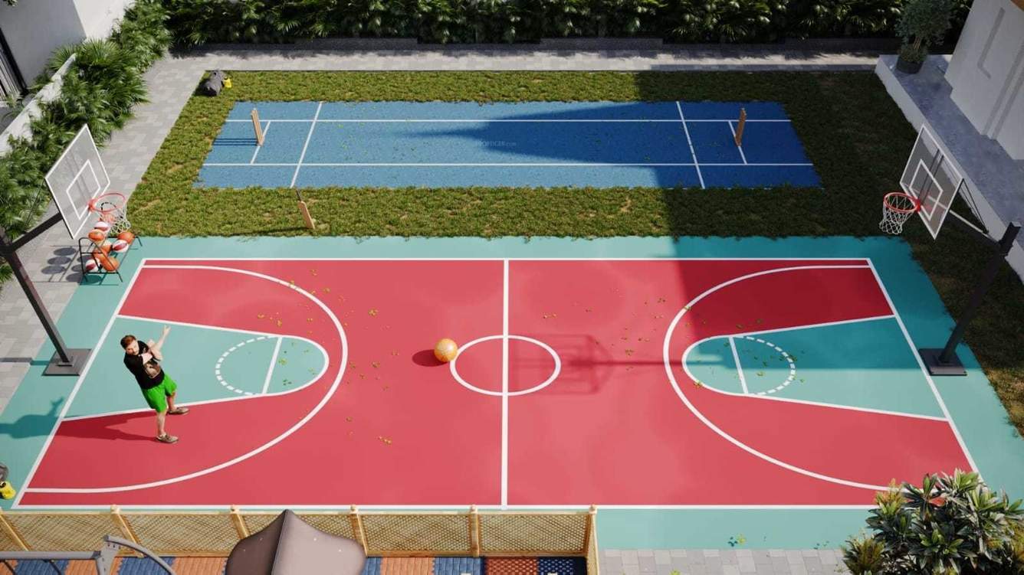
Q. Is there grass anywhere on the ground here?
Yes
